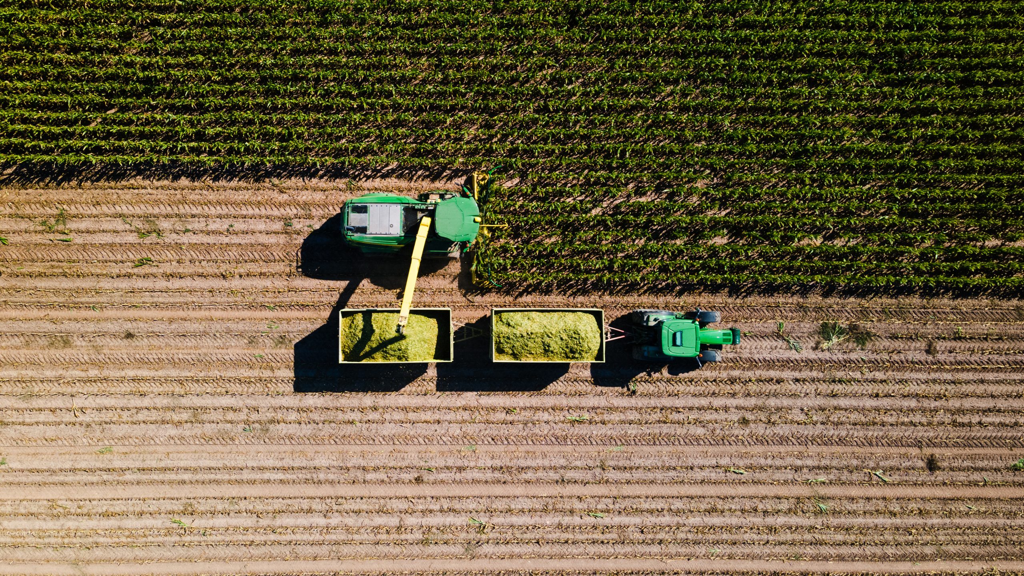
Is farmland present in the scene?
Yes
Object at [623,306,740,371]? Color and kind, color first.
green work vehicle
